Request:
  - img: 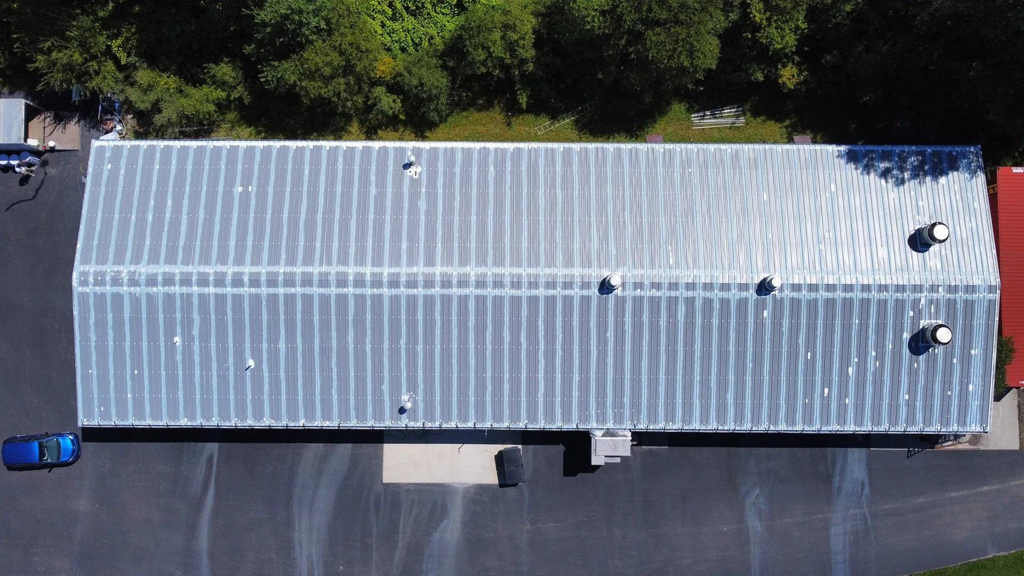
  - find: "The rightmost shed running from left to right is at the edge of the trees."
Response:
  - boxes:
[71,140,1001,431]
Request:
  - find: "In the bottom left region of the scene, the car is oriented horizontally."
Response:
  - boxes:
[2,430,82,470]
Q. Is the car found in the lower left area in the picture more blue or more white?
blue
